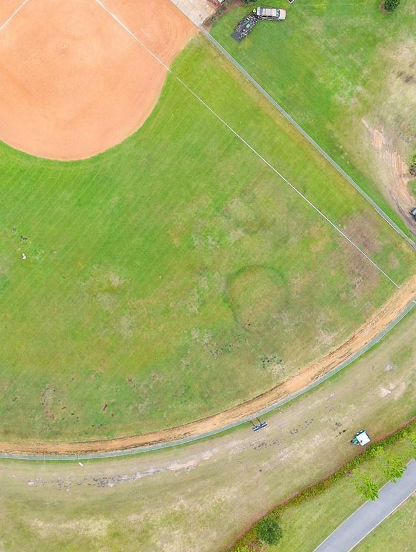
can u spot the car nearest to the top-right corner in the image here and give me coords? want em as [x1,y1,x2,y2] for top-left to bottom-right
[257,6,287,21]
